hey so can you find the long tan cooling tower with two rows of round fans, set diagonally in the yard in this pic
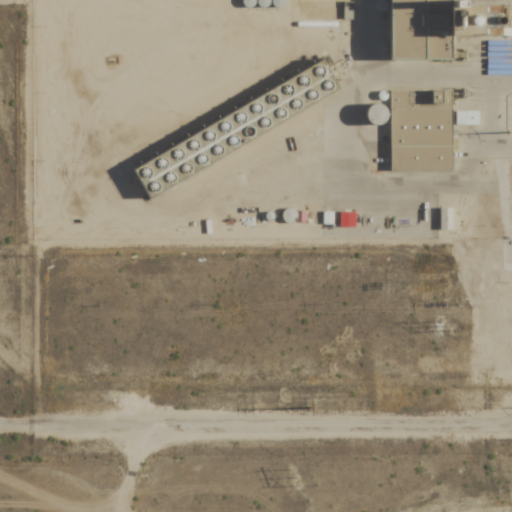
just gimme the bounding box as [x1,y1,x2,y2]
[132,57,342,200]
